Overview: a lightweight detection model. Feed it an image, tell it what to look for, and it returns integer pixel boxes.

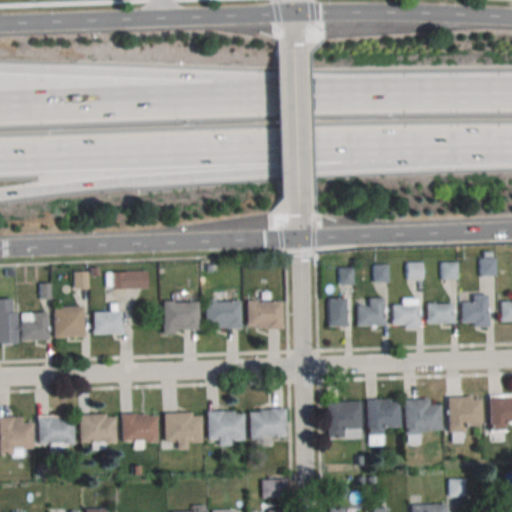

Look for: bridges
[268,20,326,232]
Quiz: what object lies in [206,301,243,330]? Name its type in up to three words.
house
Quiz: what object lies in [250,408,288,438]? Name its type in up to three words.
house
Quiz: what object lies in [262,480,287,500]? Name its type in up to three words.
building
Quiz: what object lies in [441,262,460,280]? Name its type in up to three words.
building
